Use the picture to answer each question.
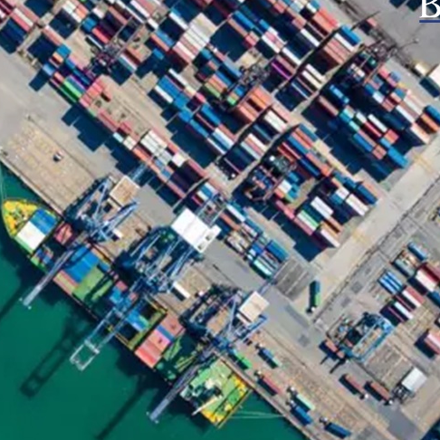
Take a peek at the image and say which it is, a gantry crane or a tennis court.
gantry crane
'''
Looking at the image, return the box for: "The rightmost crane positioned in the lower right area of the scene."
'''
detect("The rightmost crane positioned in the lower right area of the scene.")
[331,305,397,366]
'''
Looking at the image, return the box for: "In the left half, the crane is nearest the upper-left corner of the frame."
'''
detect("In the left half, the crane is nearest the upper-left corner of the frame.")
[87,15,143,81]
